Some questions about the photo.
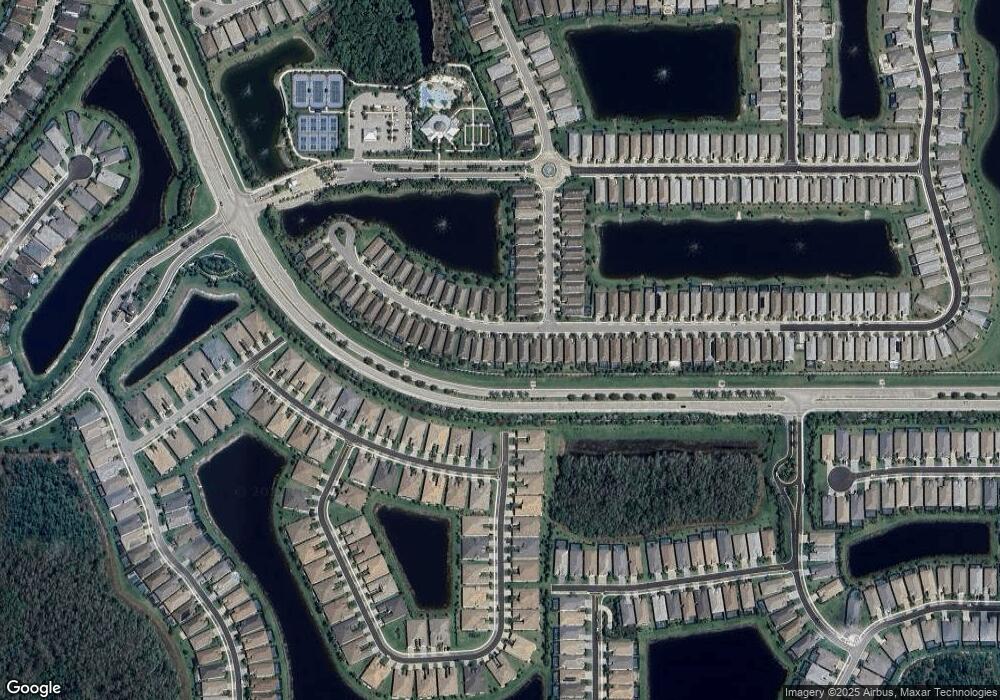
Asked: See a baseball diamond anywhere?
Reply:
No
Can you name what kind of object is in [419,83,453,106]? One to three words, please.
swimming pool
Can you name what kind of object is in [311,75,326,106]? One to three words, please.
tennis court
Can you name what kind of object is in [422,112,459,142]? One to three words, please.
building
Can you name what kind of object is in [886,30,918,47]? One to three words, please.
house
